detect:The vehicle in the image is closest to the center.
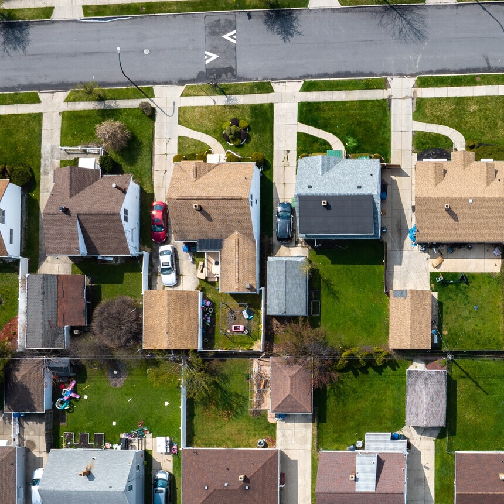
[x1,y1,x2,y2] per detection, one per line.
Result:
[274,203,294,244]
